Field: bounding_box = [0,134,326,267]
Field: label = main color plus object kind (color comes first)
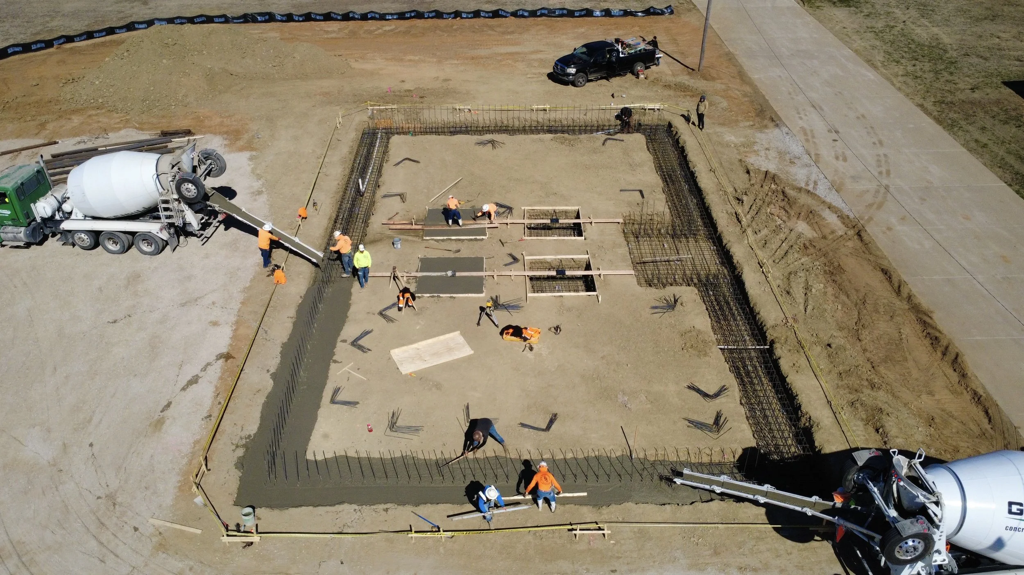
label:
white truck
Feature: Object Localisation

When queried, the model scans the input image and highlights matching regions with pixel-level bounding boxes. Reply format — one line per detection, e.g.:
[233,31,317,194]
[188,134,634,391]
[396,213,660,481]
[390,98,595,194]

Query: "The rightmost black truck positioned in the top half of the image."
[547,33,667,86]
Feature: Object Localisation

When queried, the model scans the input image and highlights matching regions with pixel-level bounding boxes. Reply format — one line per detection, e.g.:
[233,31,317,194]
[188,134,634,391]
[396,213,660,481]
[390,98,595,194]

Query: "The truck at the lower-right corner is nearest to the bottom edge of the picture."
[669,439,1024,575]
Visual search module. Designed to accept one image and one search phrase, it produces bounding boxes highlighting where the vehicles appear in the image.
[669,439,1024,575]
[0,134,326,267]
[547,33,667,86]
